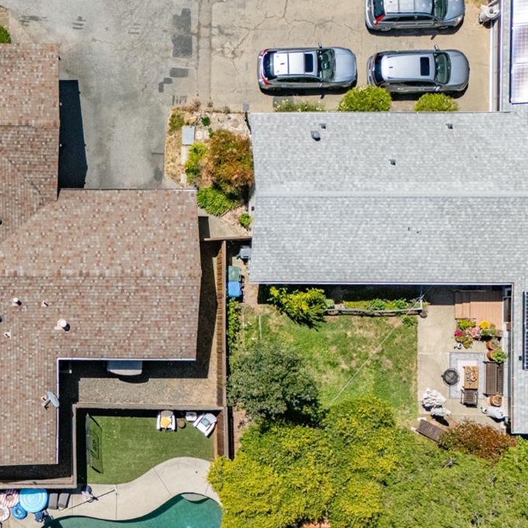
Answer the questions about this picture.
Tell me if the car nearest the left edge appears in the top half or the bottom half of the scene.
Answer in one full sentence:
It is in the top half that the car nearest the left edge appears.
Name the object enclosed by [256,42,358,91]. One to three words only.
car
